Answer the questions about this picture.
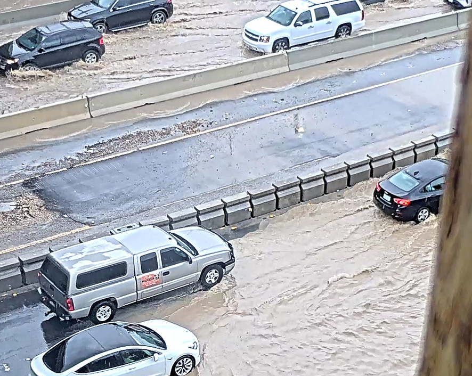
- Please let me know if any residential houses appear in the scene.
No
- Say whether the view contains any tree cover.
No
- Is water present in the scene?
Yes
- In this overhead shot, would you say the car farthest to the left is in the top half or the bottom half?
top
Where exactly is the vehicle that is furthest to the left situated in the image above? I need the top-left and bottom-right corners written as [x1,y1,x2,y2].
[0,19,109,73]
